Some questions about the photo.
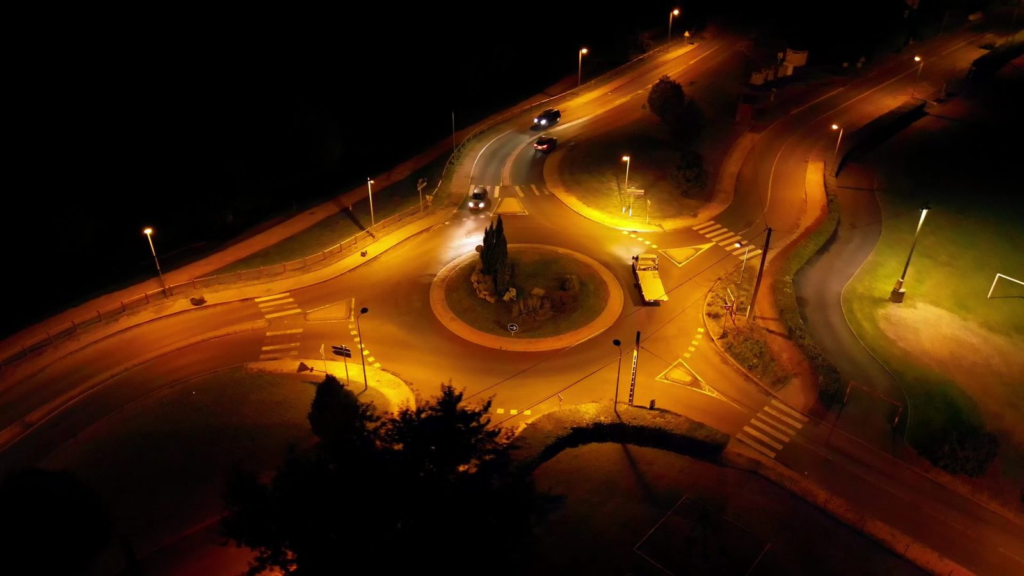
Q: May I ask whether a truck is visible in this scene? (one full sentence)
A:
Yes, the frame does contain a truck.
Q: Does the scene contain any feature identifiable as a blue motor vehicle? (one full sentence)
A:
No, there is no blue motor vehicle in the image.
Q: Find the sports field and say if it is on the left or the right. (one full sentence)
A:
The sports field appears in the right half of the scene.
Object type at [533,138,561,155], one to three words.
car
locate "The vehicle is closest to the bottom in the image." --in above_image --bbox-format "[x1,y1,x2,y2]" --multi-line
[629,251,670,305]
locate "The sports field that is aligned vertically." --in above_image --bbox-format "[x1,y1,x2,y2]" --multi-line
[842,88,1024,506]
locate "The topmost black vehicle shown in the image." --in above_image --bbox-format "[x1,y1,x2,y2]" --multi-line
[533,110,563,129]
